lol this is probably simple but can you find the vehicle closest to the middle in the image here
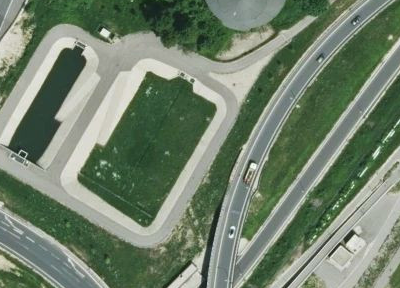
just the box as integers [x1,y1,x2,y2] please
[244,162,257,185]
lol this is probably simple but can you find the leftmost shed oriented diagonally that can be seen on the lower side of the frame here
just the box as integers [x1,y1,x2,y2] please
[166,262,198,288]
